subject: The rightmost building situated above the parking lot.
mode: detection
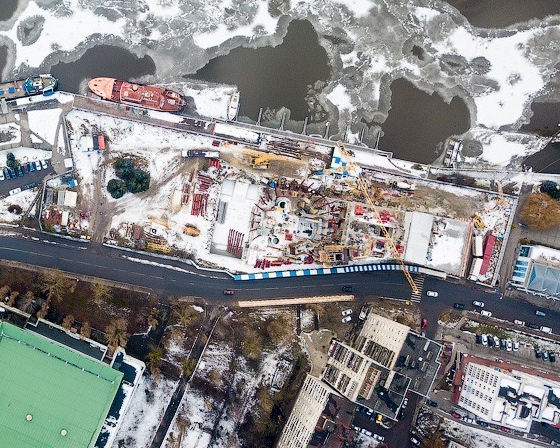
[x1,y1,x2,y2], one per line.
[501,244,560,301]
